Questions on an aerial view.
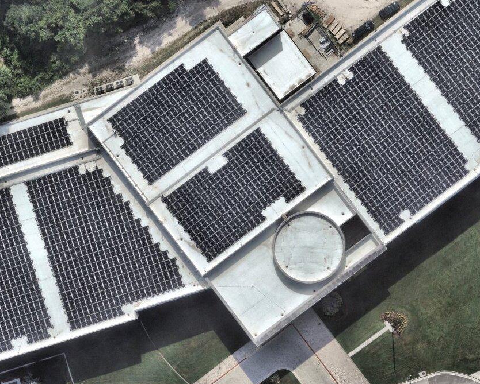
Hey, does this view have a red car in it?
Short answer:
No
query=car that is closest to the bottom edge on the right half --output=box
[351,21,373,38]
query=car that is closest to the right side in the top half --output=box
[377,2,399,18]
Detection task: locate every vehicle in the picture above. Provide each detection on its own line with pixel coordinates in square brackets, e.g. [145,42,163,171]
[377,2,399,18]
[351,21,373,38]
